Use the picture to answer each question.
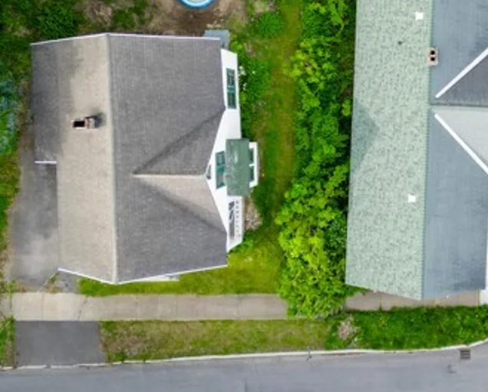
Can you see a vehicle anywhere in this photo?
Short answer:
No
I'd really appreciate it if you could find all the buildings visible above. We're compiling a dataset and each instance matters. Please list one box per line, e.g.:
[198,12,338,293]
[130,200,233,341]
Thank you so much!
[345,0,488,299]
[30,29,257,284]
